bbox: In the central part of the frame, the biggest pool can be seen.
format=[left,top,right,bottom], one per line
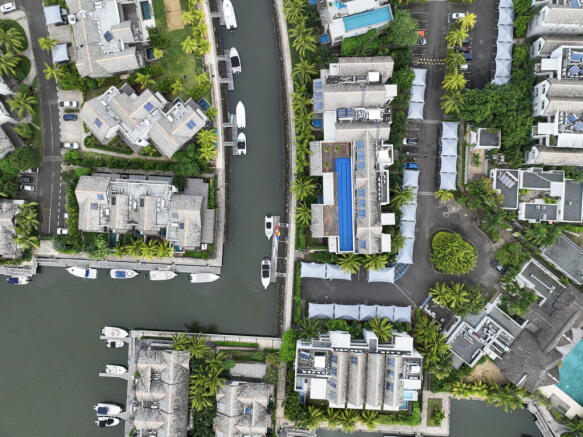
[335,157,353,252]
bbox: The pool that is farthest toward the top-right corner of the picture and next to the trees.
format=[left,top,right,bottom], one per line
[342,7,389,33]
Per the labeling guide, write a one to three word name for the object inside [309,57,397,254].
building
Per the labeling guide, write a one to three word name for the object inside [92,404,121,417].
boat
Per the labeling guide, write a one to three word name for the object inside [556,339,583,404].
swimming pool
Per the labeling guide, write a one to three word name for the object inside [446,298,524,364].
house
